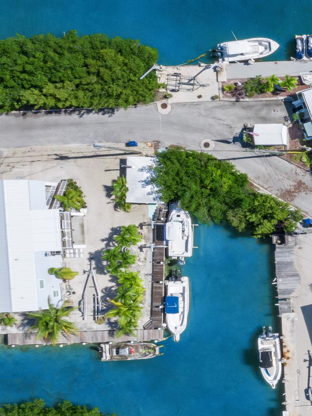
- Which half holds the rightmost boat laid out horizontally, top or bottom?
top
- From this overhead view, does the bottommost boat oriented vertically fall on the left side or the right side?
right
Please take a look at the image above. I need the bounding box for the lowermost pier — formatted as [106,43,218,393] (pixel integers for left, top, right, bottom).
[8,329,164,347]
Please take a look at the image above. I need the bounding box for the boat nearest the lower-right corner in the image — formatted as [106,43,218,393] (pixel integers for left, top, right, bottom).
[259,323,284,389]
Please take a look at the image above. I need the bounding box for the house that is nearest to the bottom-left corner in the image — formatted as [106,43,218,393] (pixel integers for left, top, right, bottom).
[0,179,89,313]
